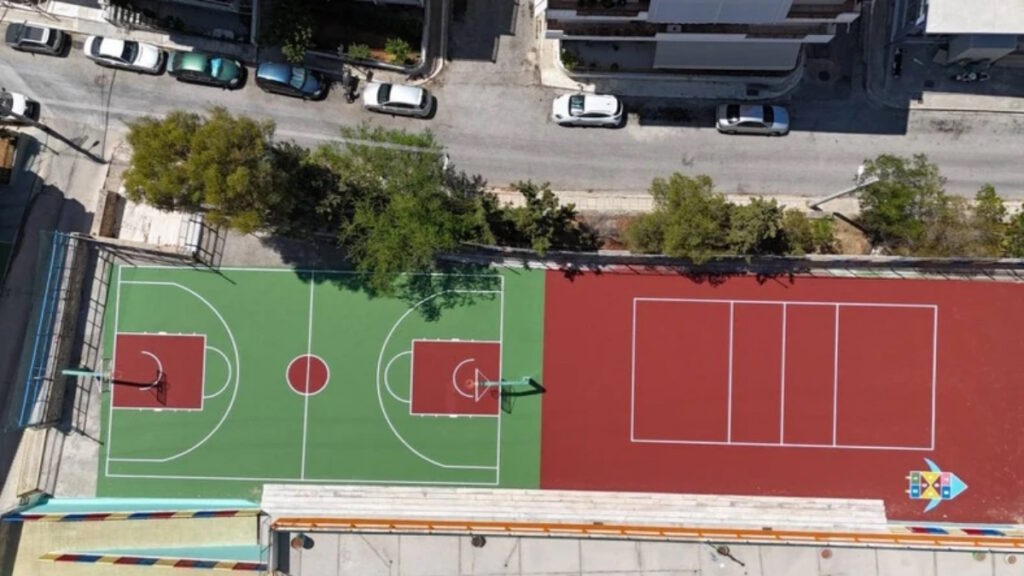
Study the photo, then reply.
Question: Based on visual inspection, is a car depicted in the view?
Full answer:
Yes, a car is visible in the scene.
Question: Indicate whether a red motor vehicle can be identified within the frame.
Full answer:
No, I can see no red motor vehicle in this picture.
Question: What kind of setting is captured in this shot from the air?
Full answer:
What you see here is a sports ground.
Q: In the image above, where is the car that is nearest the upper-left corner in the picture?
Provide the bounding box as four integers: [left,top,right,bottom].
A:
[2,16,71,58]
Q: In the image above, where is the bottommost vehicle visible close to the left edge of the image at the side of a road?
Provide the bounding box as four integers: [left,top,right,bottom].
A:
[0,88,37,125]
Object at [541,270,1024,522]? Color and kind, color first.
red sports court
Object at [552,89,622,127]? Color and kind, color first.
white car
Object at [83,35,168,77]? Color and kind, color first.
white car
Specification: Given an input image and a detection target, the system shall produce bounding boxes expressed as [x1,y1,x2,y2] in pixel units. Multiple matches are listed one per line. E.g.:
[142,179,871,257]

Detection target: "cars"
[2,16,71,58]
[255,60,327,101]
[364,78,433,118]
[0,88,37,125]
[167,48,247,89]
[717,101,786,137]
[83,35,168,77]
[552,89,622,127]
